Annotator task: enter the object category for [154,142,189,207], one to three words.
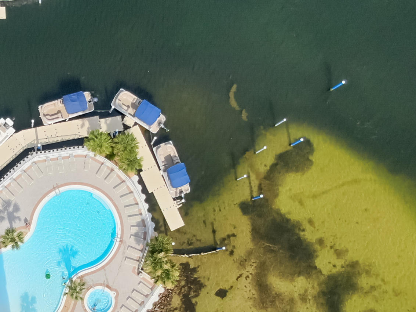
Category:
boat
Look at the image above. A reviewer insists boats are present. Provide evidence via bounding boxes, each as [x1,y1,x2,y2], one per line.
[154,142,189,207]
[39,94,103,125]
[112,90,170,134]
[0,117,20,146]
